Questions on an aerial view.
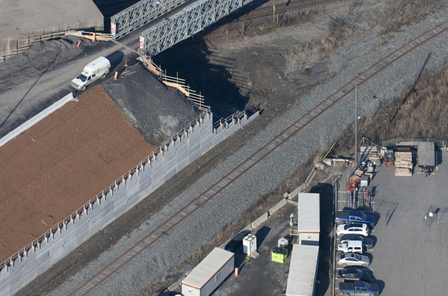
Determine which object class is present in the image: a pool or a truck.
truck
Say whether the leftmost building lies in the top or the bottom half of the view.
bottom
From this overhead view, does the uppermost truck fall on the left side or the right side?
left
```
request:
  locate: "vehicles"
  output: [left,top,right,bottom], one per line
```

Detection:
[337,220,368,233]
[337,251,371,266]
[338,277,381,295]
[335,235,366,252]
[337,264,371,278]
[335,206,377,224]
[74,52,110,84]
[340,231,374,245]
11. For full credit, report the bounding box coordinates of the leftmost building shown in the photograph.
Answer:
[173,243,243,296]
